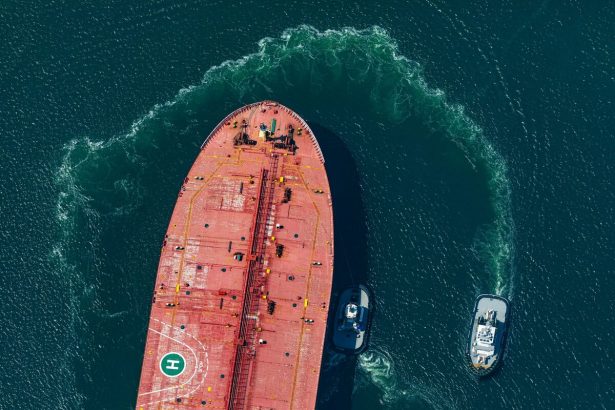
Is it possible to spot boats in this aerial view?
Yes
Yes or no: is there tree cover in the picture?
No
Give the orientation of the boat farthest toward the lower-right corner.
up and down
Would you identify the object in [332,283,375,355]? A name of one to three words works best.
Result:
boat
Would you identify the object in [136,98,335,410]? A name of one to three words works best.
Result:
ship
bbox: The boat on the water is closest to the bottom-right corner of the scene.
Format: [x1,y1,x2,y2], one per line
[465,292,507,376]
